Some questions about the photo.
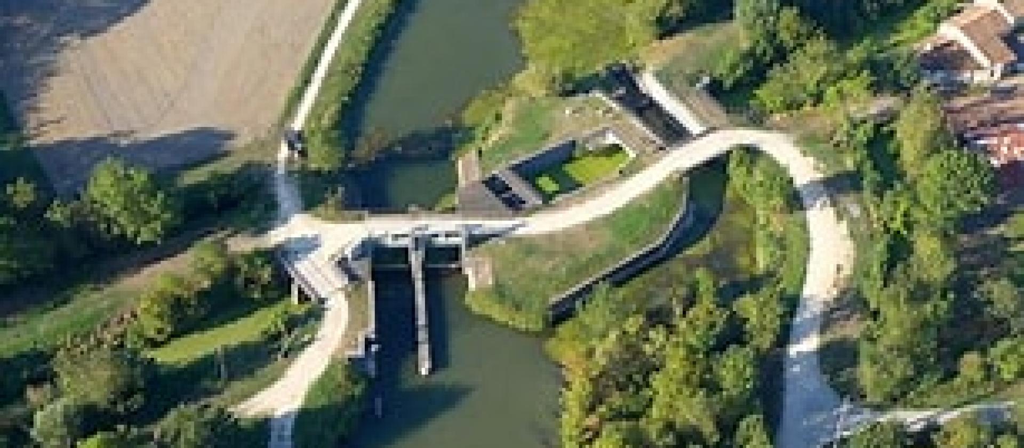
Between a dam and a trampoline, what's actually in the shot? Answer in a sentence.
There is a dam in the scene.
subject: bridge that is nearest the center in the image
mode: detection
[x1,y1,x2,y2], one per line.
[368,216,471,244]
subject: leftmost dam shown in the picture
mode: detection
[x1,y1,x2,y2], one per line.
[372,231,465,289]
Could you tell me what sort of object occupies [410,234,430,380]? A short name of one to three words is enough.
pier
